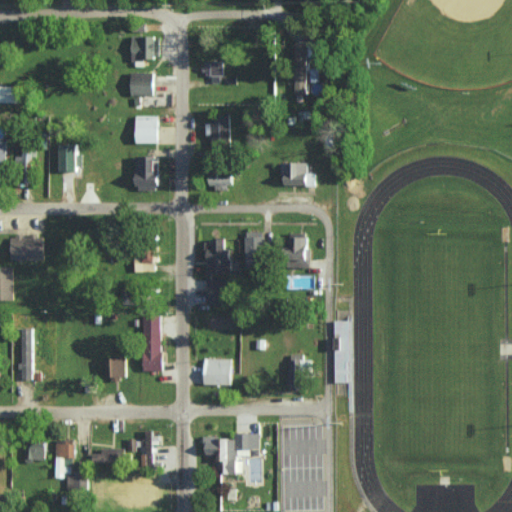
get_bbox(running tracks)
[354,157,512,512]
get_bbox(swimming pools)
[286,276,316,290]
[246,456,264,488]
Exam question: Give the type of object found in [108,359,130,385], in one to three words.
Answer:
house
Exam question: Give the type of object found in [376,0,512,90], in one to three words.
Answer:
baseball field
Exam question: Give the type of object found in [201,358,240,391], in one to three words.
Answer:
house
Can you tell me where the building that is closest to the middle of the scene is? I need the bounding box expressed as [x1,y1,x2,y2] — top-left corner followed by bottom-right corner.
[245,232,269,258]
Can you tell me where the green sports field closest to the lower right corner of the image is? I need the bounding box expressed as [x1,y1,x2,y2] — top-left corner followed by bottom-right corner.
[374,176,512,510]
